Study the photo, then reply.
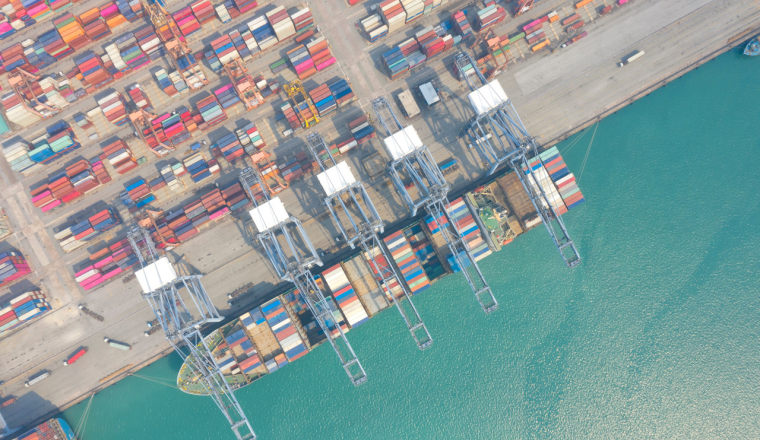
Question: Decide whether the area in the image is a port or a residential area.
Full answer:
This image shows a port.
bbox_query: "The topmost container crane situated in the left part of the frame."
[142,0,185,45]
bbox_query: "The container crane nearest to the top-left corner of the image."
[7,70,60,122]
